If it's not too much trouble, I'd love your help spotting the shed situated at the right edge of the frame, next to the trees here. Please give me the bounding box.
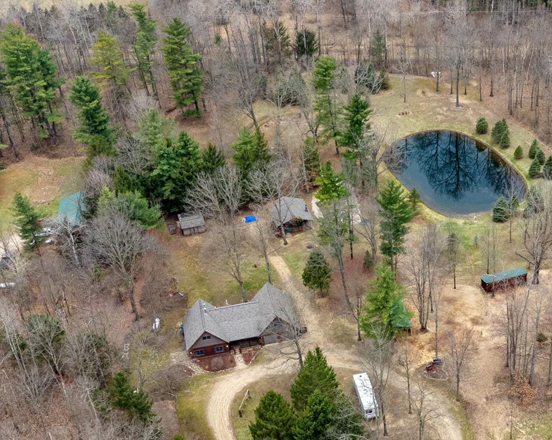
[477,258,530,292]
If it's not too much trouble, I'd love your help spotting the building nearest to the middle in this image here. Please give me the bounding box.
[264,199,311,237]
